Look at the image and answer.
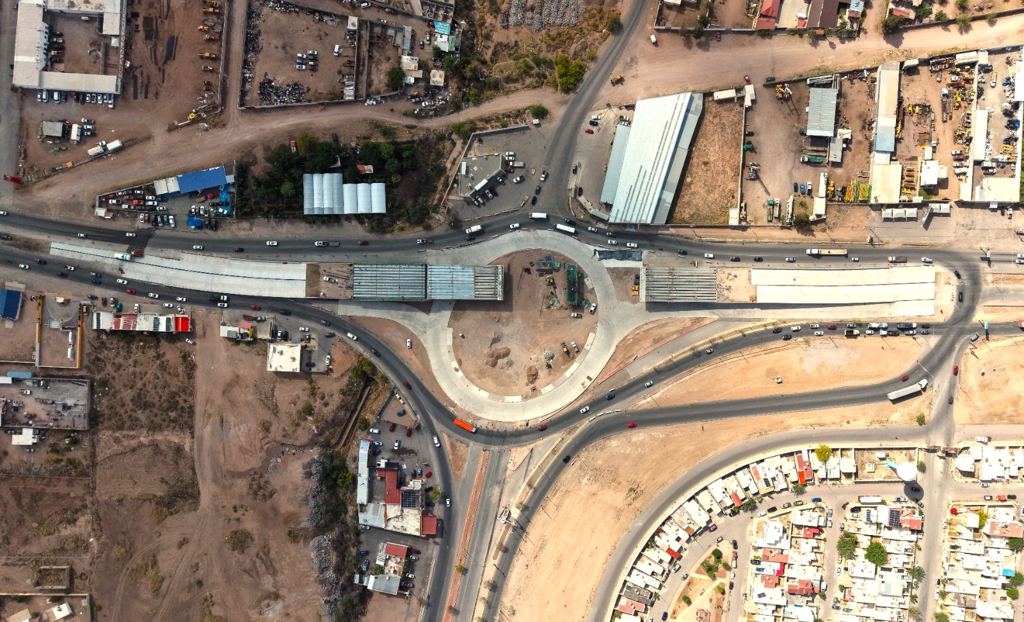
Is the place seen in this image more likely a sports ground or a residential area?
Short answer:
residential area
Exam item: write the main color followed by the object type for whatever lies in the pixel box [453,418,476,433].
orange vehicle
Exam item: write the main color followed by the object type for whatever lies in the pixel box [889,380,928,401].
white truck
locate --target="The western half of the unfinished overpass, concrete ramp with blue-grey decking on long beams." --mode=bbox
[51,242,504,301]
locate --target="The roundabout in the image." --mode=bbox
[338,230,936,421]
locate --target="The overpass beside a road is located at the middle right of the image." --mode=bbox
[639,266,935,303]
